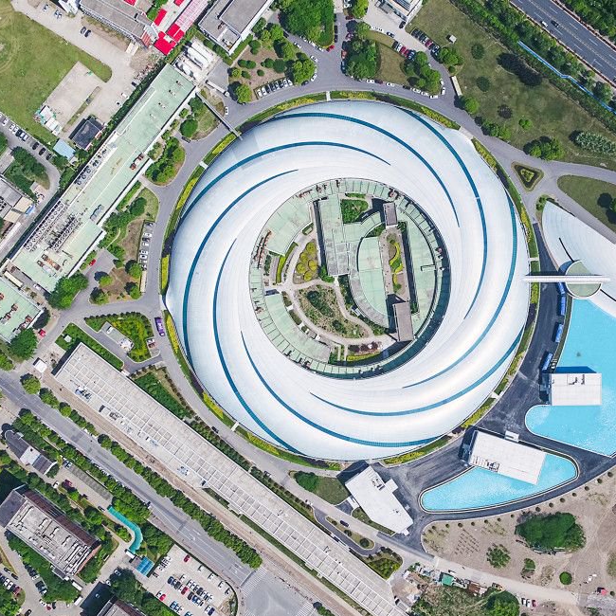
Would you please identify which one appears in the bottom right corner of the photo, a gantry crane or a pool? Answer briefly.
pool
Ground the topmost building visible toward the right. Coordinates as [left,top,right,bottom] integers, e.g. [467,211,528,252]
[374,0,424,28]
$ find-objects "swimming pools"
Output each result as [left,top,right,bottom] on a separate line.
[522,296,616,460]
[418,449,580,514]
